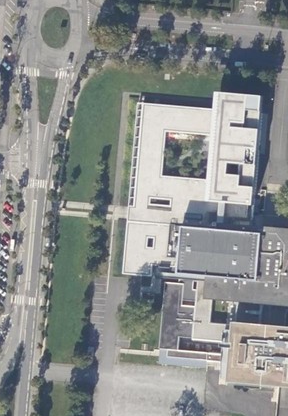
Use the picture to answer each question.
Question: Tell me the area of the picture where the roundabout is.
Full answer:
The roundabout is located in the top left region of the scene.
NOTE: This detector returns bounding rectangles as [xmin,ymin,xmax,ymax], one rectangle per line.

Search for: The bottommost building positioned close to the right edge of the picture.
[226,322,288,391]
